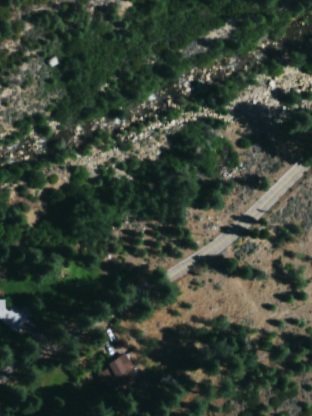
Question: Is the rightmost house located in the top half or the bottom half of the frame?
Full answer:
You can find the rightmost house in the bottom half.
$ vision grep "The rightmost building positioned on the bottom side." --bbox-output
[108,352,136,380]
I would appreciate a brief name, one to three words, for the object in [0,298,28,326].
house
